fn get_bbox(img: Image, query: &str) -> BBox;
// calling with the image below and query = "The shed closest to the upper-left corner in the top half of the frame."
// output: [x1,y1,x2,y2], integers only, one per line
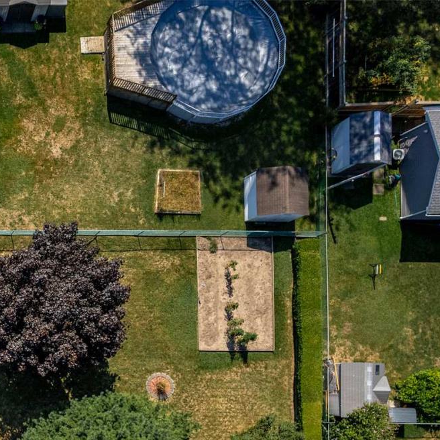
[0,0,68,31]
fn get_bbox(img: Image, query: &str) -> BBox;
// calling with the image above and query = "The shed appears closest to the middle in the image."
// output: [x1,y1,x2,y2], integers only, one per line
[242,164,310,222]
